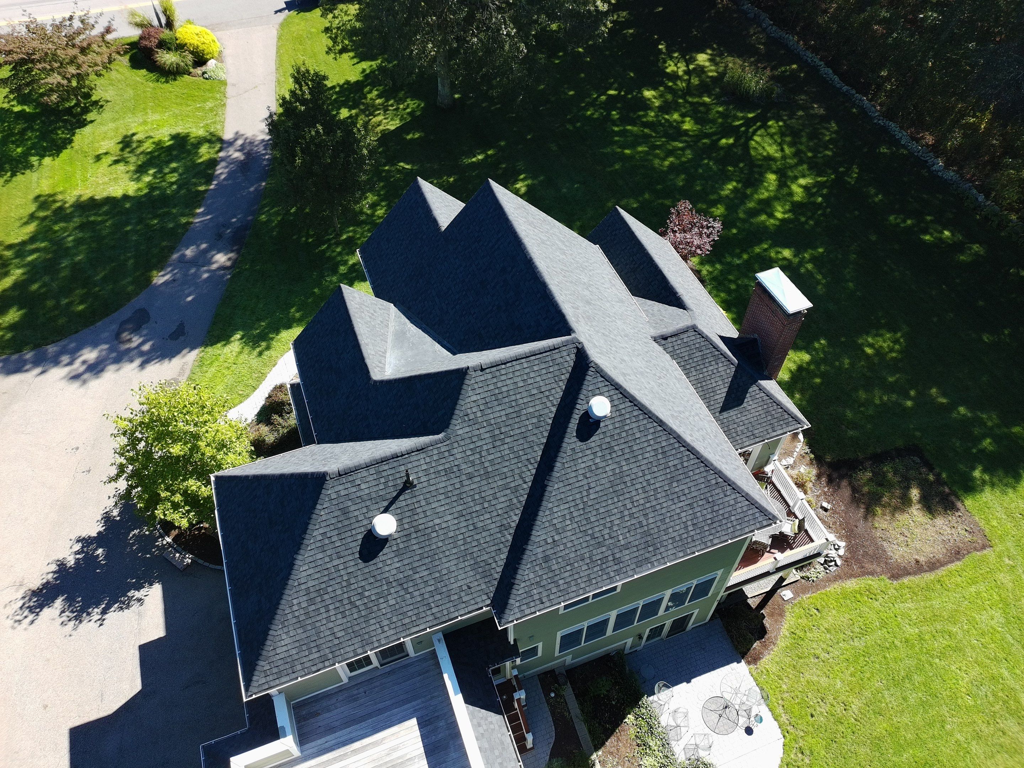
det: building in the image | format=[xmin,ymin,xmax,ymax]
[200,177,815,768]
